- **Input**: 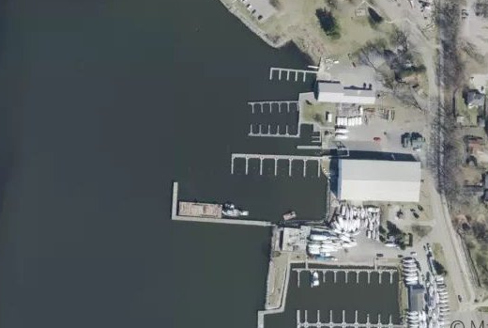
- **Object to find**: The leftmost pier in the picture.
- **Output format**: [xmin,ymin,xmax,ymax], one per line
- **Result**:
[171,182,271,227]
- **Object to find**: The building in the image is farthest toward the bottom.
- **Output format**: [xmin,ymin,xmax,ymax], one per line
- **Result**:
[408,287,424,311]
